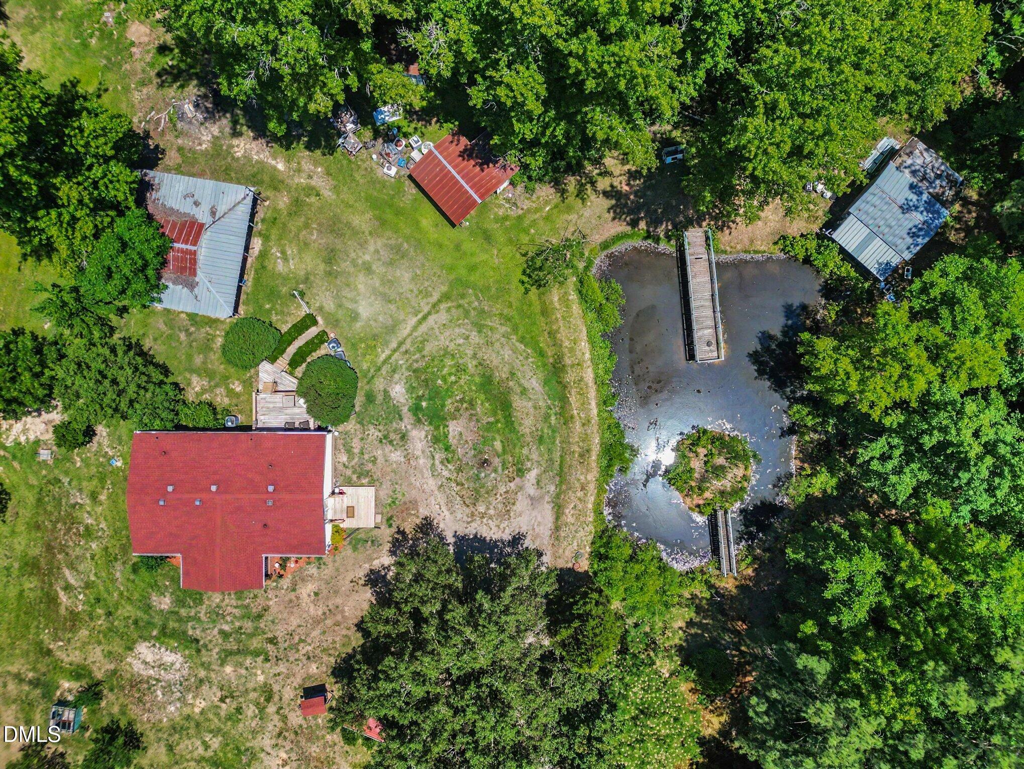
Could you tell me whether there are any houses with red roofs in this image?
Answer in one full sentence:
Yes, the picture does show a house with a red roof.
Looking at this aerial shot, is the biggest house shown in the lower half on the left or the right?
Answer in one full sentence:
You can find the biggest house shown in the lower half on the left side of the picture.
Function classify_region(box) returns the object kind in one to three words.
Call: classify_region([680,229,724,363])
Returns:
pier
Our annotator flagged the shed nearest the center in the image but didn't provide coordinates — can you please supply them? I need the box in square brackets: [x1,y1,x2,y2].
[409,129,519,229]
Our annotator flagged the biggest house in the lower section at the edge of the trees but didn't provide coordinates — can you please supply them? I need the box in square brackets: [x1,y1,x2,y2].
[126,431,334,592]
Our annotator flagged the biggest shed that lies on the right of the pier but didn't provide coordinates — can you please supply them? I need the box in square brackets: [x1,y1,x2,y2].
[823,161,949,282]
